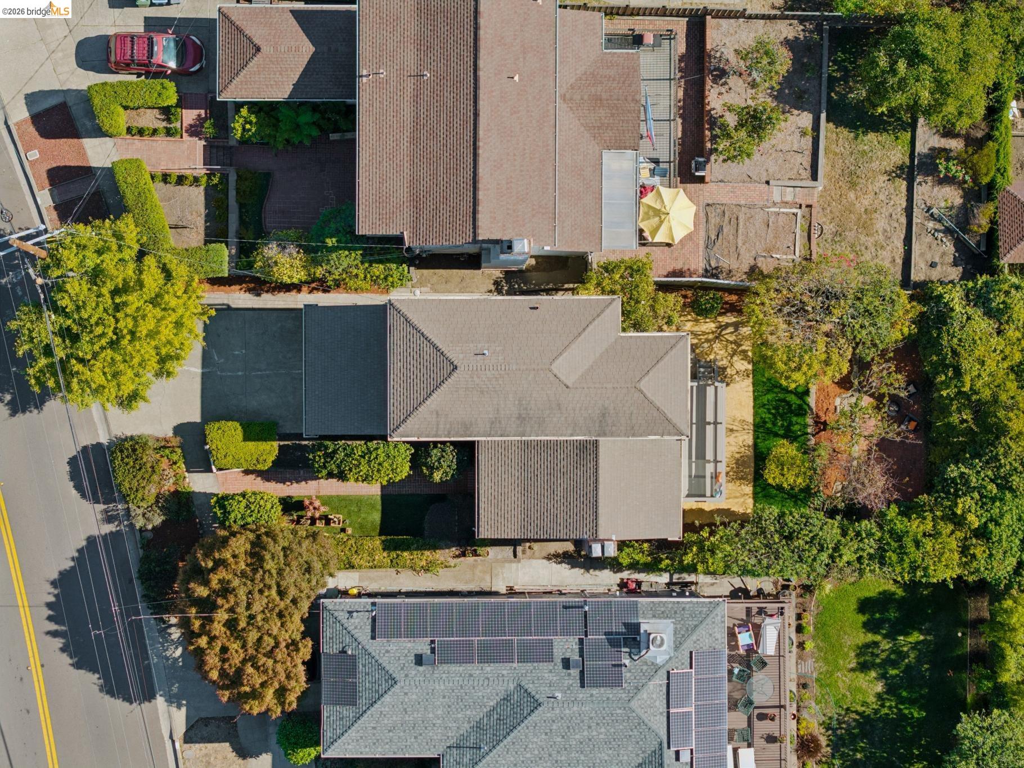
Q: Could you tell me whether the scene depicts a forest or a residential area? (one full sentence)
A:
This looks like a residential area.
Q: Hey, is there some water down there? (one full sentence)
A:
No, there's no water in this view.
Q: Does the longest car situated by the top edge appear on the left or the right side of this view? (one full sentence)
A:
The longest car situated by the top edge appears in the left half of the scene.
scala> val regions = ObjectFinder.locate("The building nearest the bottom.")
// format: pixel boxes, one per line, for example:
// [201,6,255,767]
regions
[318,596,729,768]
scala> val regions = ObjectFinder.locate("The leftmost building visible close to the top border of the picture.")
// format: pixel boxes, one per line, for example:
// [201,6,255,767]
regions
[216,0,641,270]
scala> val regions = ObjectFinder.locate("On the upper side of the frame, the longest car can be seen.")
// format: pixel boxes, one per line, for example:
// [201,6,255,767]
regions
[108,28,204,77]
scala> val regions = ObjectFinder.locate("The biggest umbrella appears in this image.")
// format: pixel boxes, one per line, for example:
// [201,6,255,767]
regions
[639,184,697,244]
